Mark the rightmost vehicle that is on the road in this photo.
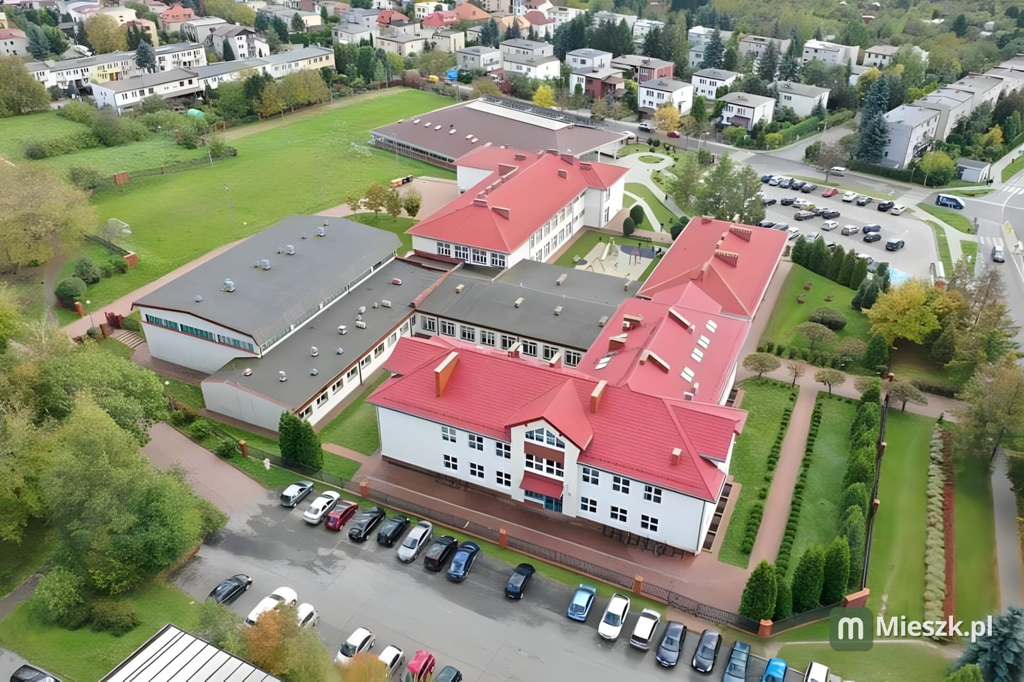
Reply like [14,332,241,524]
[989,247,1005,263]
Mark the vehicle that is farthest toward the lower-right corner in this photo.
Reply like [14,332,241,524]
[799,655,833,682]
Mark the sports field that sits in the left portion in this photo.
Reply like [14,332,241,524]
[57,88,457,331]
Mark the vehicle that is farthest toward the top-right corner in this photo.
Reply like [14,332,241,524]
[932,190,968,211]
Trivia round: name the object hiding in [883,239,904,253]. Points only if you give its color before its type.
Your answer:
gray car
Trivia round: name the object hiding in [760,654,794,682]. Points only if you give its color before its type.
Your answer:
blue car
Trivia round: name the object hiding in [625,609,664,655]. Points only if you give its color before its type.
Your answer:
white car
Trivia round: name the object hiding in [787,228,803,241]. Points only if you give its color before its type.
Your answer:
white vehicle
